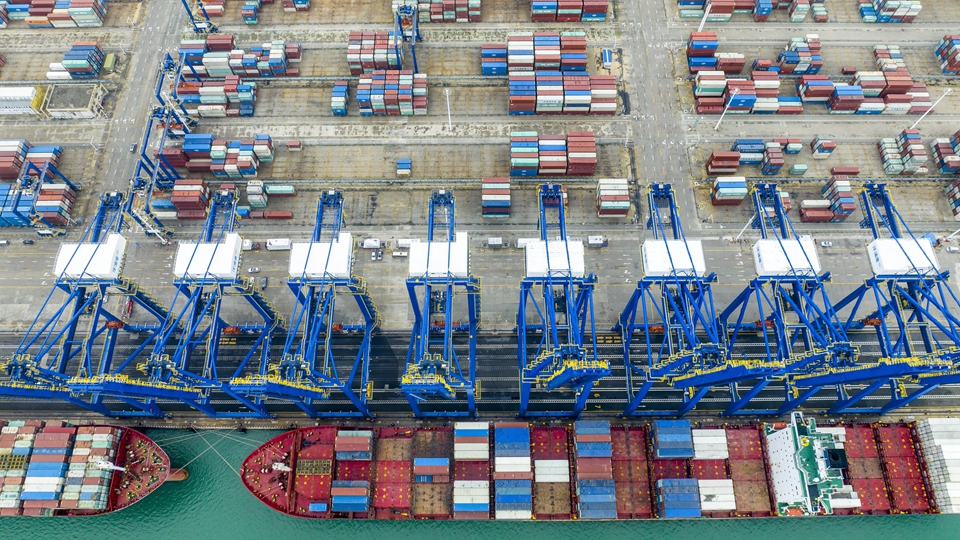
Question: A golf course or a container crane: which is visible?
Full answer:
It is a container crane that can be seen here.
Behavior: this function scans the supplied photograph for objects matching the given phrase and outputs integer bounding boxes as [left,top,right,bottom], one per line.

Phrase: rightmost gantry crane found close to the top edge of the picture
[393,3,423,72]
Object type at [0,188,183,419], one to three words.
container crane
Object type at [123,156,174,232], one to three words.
container crane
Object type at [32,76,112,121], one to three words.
building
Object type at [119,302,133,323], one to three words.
vehicle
